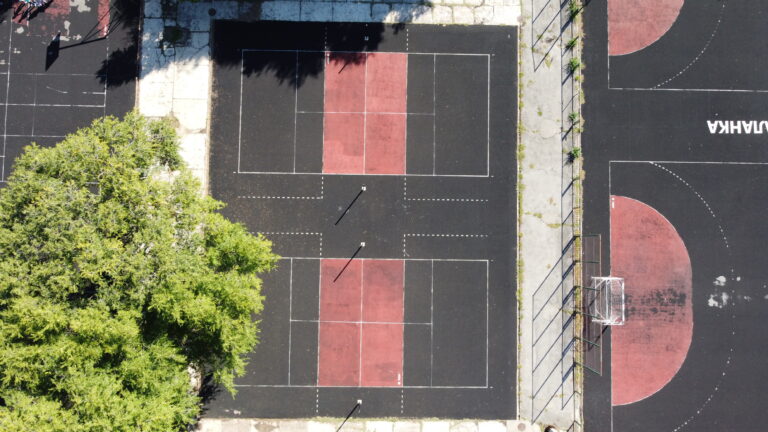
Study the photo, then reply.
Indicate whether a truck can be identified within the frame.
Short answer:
No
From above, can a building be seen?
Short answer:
No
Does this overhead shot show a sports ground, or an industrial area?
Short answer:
sports ground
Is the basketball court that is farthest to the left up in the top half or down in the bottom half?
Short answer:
top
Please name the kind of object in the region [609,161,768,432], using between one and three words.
sports court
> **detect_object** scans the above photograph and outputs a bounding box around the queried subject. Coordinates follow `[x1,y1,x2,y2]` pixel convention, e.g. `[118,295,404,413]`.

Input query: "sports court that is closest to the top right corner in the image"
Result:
[608,0,768,92]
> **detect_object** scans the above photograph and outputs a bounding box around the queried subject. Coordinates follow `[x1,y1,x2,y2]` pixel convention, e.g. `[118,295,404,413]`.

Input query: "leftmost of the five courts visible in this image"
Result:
[0,0,110,106]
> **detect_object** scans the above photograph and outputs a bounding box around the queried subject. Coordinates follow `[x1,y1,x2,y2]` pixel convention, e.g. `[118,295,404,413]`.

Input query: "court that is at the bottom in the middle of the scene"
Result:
[228,232,493,412]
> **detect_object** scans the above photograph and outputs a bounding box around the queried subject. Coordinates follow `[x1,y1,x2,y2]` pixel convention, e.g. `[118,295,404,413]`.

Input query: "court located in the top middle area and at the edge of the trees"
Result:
[234,28,493,200]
